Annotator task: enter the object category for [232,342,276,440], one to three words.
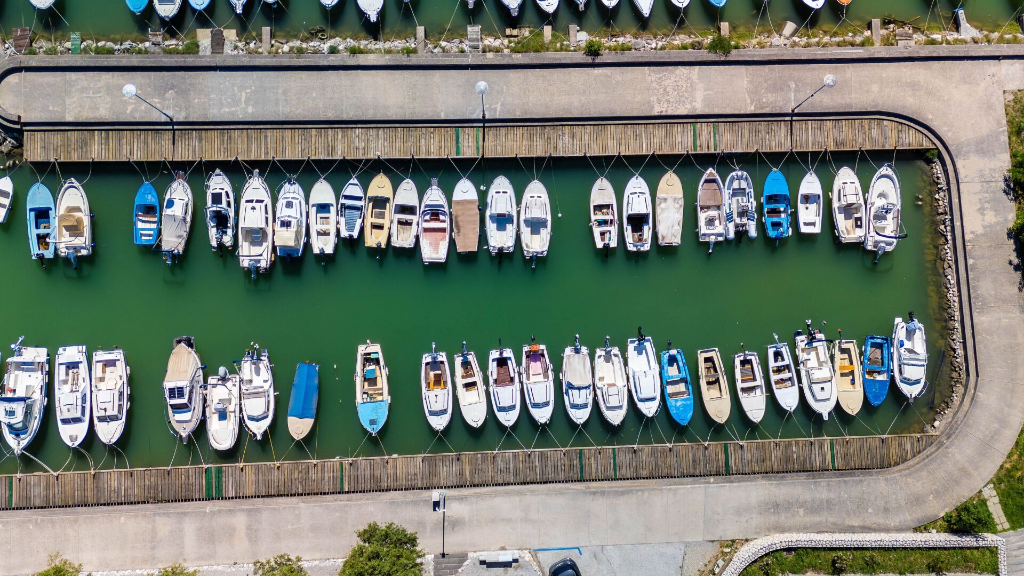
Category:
boat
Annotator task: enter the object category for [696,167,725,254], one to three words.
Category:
boat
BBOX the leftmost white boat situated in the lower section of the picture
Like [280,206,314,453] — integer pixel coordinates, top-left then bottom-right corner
[0,334,56,456]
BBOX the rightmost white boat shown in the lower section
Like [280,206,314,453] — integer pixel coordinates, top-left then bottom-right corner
[889,311,931,403]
